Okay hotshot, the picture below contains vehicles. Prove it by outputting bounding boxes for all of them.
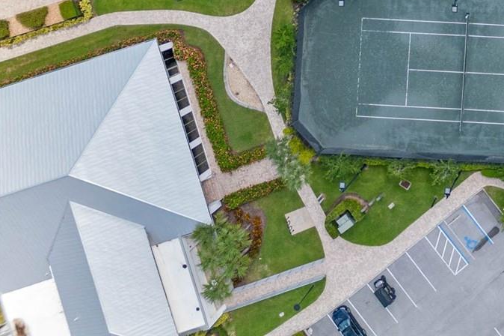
[333,307,368,336]
[375,280,396,309]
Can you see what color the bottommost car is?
blue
